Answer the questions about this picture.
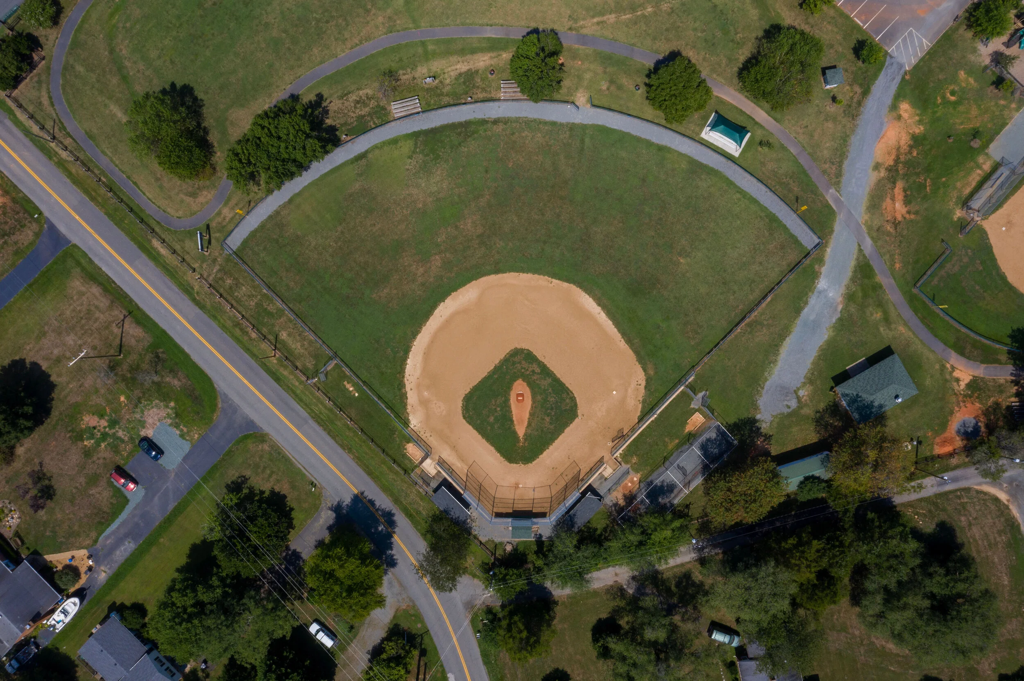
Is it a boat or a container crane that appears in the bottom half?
boat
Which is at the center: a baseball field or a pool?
baseball field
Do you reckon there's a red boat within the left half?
No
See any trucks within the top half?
No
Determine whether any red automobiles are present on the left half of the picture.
Yes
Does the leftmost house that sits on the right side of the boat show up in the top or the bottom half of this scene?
bottom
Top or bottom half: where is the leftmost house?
bottom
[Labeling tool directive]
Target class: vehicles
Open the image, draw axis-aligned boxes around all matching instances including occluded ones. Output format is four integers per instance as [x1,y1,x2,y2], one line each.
[306,623,339,653]
[137,437,162,462]
[4,645,36,674]
[711,628,741,648]
[107,466,137,493]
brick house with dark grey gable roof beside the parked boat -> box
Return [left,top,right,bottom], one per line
[0,555,68,659]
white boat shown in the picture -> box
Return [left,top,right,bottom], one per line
[41,604,73,638]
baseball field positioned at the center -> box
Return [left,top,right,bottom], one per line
[223,99,823,517]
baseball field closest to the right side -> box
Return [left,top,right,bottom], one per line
[919,182,1024,350]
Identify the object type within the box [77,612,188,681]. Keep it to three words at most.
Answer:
house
